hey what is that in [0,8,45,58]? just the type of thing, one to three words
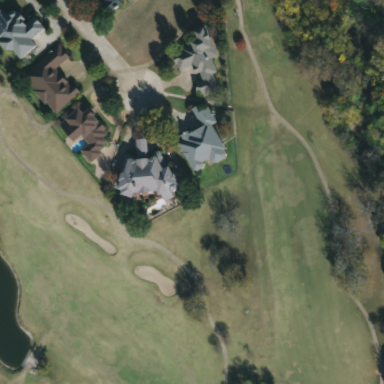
house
